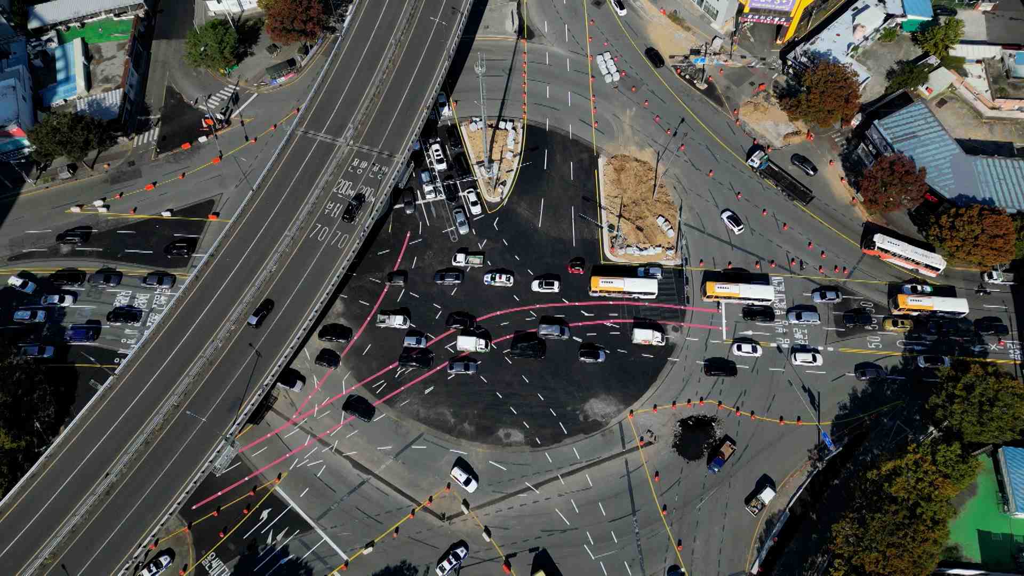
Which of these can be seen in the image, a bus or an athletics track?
bus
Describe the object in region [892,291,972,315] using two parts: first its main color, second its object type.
white bus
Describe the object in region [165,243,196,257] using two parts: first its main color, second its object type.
black car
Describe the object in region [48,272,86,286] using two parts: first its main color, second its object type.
black car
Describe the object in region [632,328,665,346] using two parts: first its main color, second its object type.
white vehicle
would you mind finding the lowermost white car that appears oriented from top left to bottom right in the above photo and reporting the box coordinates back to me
[449,466,480,496]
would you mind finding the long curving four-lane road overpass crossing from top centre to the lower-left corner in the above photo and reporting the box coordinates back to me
[0,0,475,576]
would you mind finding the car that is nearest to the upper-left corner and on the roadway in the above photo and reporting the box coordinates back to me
[57,233,88,247]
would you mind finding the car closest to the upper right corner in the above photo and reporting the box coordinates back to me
[933,4,959,17]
